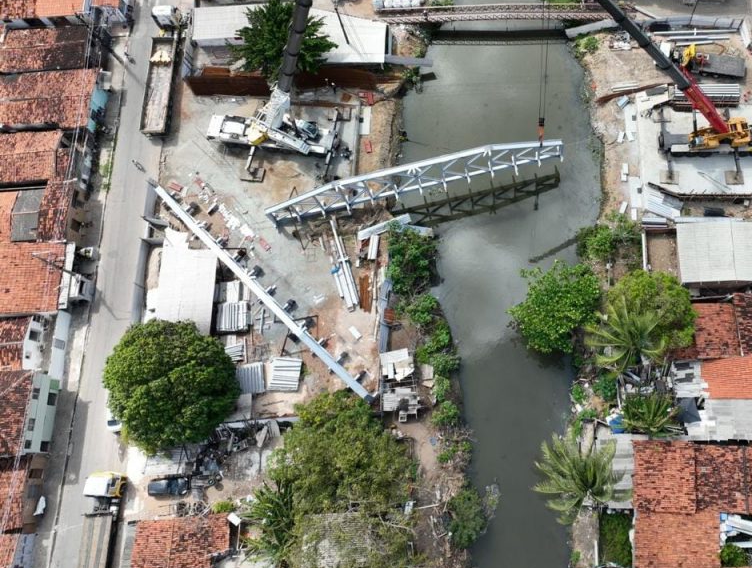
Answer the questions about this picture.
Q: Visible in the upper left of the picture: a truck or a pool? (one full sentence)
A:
You can see a truck in the upper left of the picture.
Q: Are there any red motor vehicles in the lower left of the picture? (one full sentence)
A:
No, I can find no red motor vehicle in the lower left of the picture.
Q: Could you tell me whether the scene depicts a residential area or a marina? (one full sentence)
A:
This looks like a residential area.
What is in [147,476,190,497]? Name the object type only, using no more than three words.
car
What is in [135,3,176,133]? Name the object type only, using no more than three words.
truck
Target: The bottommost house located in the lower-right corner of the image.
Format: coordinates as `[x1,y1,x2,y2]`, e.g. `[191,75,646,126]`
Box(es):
[635,513,721,568]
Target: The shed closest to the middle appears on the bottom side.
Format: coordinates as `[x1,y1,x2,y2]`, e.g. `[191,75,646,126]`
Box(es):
[379,349,414,381]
